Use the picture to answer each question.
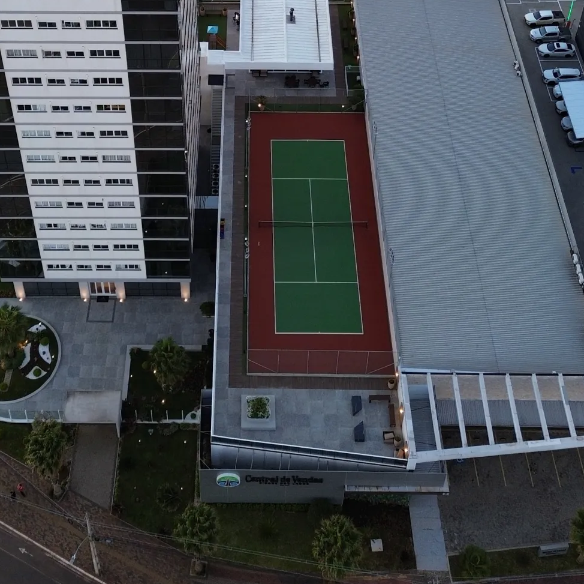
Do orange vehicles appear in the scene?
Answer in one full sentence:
No, the picture doesn't show any orange vehicle.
